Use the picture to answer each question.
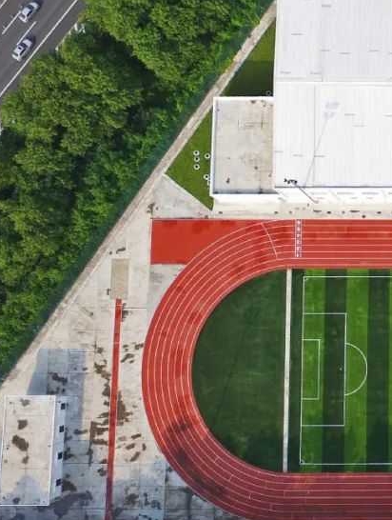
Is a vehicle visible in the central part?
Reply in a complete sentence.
No, there is no vehicle in the central part.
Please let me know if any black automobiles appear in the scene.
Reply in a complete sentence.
No, there is no black automobile in the image.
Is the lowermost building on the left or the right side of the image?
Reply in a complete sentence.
It is on the left.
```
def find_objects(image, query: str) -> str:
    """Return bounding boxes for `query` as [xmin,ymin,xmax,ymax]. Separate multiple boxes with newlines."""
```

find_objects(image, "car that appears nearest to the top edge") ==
[16,0,39,23]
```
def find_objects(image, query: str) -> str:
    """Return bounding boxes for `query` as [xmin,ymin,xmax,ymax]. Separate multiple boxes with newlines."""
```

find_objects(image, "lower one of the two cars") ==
[9,38,32,61]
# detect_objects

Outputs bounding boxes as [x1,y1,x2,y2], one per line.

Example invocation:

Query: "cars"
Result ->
[9,38,32,61]
[16,0,39,23]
